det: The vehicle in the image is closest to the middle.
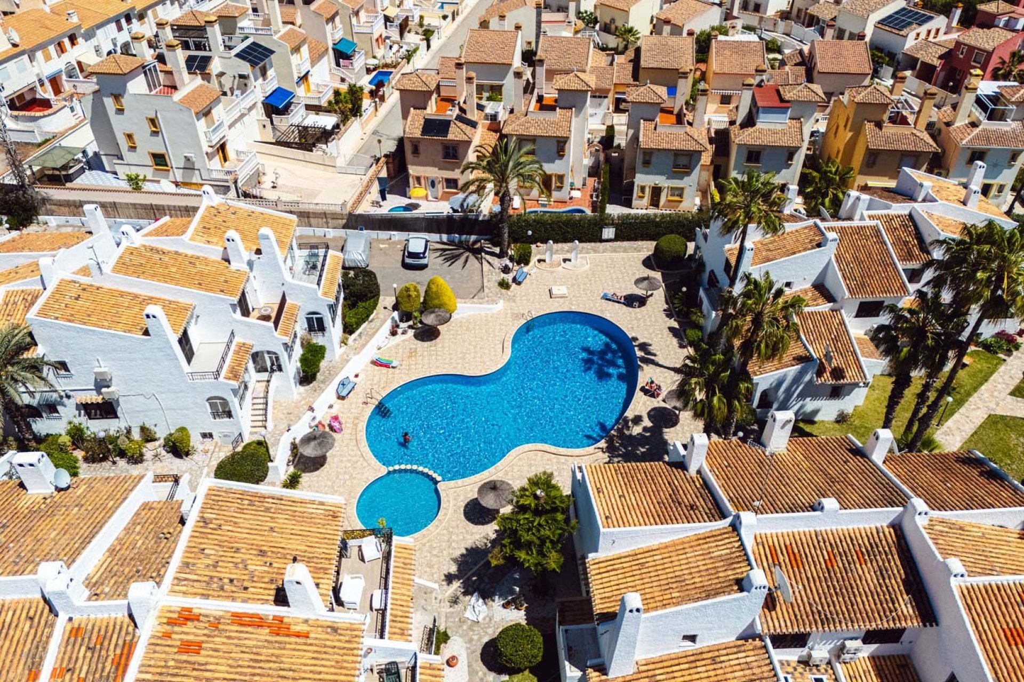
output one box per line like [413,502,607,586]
[402,233,431,265]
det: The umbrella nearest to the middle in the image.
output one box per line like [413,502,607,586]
[421,309,452,339]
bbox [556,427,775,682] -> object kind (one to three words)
house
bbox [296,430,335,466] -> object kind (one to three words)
umbrella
